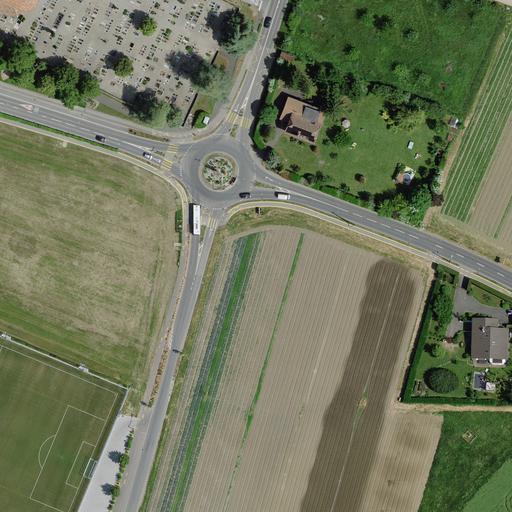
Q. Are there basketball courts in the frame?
No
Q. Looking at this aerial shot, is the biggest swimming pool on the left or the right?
right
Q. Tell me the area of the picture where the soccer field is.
bottom left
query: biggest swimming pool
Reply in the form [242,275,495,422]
[473,372,496,394]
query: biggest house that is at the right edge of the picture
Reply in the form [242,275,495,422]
[472,318,511,367]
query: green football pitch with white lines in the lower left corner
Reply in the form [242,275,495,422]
[0,338,130,512]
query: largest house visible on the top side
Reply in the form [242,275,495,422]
[280,96,325,144]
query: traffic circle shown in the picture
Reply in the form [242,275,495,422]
[182,134,256,208]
